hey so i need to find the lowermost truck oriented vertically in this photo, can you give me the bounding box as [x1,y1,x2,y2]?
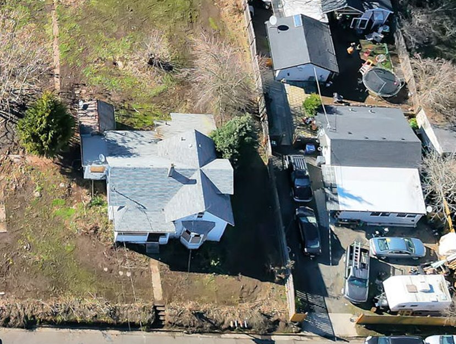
[343,237,372,309]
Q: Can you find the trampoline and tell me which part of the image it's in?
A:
top right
